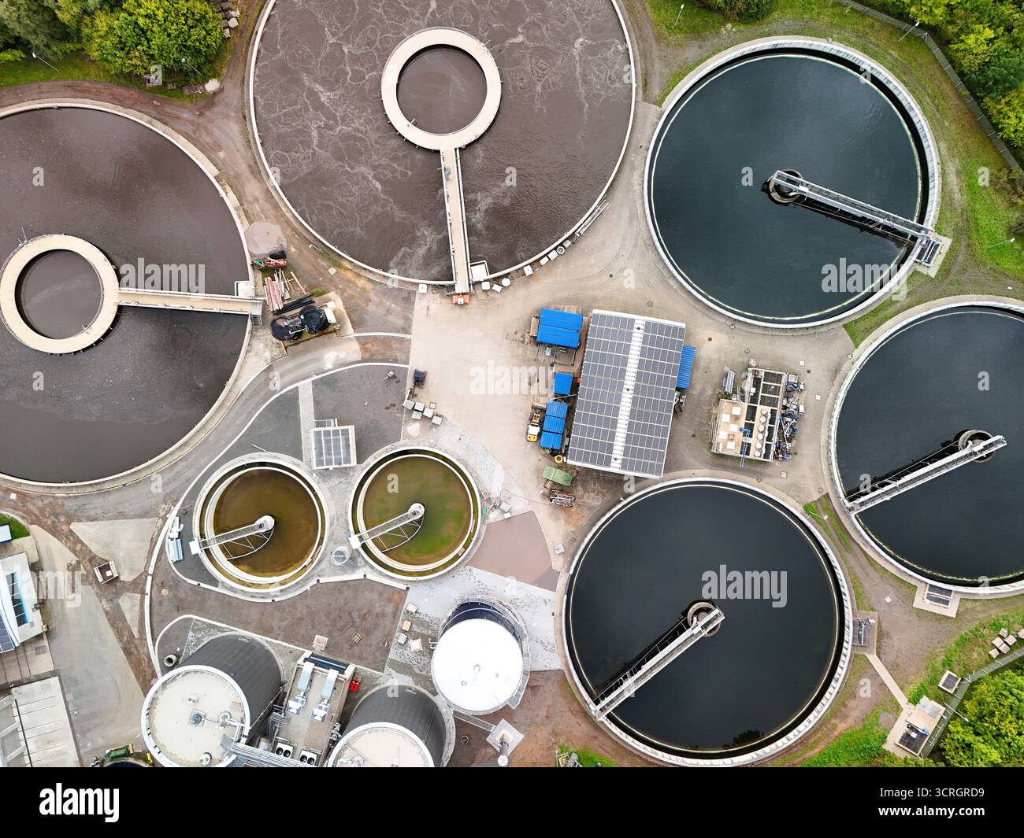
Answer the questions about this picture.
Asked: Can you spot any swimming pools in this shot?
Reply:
No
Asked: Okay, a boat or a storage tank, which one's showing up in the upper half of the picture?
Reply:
storage tank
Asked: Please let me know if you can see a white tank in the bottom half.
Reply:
Yes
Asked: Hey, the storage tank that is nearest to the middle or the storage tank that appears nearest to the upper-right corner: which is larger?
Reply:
the storage tank that appears nearest to the upper-right corner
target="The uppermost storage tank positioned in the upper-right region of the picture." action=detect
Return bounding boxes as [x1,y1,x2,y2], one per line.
[637,35,938,336]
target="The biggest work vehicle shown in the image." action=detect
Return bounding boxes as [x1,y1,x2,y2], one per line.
[525,402,546,445]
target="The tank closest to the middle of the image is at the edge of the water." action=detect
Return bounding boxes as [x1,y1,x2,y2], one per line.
[349,448,481,580]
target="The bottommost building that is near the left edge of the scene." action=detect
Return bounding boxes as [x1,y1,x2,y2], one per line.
[0,552,49,654]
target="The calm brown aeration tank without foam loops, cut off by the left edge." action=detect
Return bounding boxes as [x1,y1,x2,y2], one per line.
[0,98,264,495]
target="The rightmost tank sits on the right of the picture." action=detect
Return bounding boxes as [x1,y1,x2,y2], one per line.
[821,296,1024,597]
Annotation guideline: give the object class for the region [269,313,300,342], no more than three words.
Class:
storage tank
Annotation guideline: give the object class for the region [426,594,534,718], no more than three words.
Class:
storage tank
